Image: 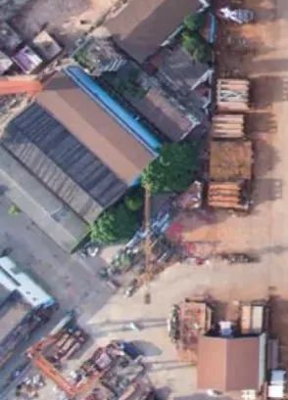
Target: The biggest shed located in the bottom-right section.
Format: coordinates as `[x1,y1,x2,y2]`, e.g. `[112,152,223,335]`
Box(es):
[197,329,268,393]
